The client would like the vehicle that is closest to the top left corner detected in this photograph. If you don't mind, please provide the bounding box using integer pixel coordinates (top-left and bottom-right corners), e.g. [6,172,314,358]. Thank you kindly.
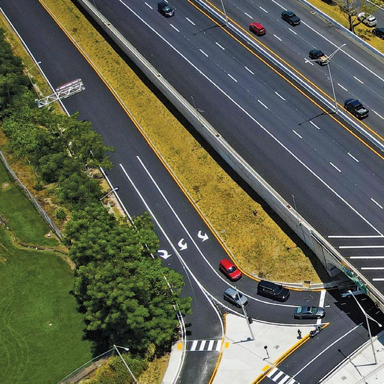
[157,0,176,17]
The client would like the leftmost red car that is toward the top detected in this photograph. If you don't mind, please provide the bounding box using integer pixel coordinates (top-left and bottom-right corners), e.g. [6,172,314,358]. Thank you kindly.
[248,22,268,37]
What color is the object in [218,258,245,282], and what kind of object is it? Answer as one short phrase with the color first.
red car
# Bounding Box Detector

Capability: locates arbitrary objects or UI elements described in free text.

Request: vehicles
[294,306,326,321]
[256,278,292,302]
[308,326,321,336]
[248,22,268,37]
[344,99,370,119]
[339,287,369,301]
[357,12,379,26]
[321,0,338,5]
[222,289,250,309]
[218,258,245,282]
[281,11,300,26]
[370,26,384,41]
[157,0,176,17]
[307,49,331,66]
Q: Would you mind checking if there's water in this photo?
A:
No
